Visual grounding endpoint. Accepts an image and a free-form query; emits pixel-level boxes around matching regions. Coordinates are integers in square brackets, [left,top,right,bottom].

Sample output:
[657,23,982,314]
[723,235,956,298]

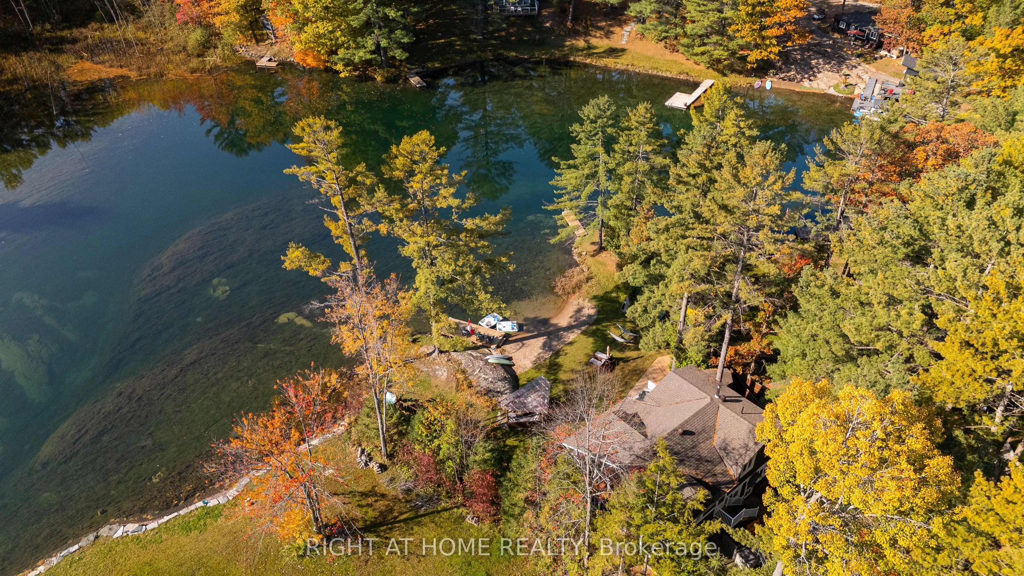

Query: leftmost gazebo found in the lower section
[500,375,551,434]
